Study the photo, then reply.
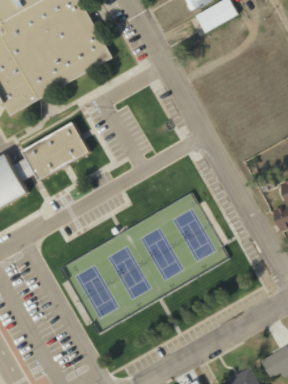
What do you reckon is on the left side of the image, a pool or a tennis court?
tennis court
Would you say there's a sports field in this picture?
Yes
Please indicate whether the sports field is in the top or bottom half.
bottom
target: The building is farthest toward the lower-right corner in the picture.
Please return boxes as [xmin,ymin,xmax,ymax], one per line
[262,348,288,378]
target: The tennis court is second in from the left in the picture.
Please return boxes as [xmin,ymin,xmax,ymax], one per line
[109,246,151,300]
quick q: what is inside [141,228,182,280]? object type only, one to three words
tennis court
